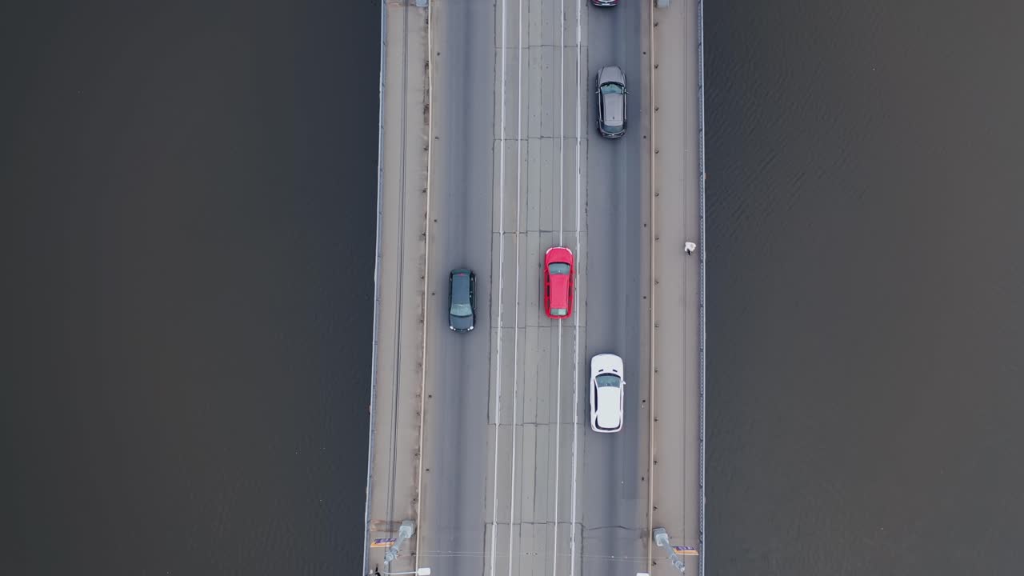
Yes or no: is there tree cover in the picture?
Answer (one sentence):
No, the scene doesn't show any tree cover.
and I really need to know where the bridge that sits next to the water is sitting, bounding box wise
[364,0,703,576]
